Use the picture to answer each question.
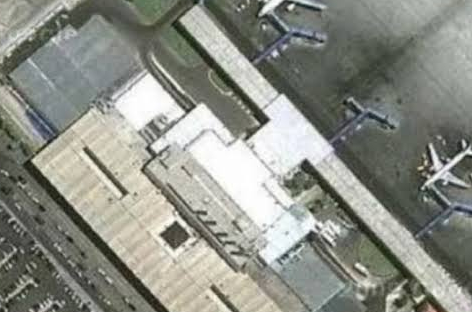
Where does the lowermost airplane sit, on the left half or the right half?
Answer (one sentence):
It is on the right.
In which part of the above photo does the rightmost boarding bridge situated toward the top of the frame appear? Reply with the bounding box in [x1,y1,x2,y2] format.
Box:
[330,95,398,144]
